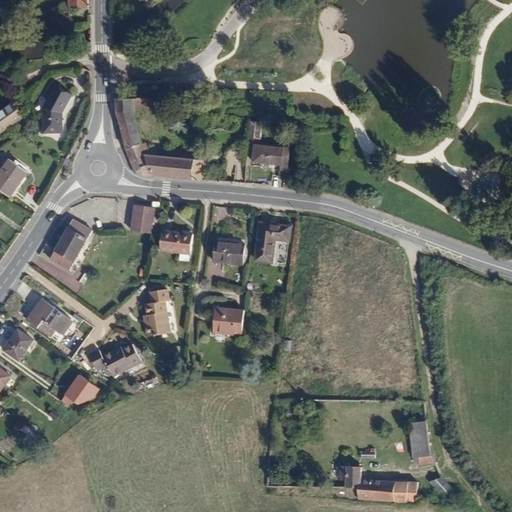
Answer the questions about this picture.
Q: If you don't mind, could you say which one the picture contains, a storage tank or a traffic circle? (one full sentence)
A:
It is a traffic circle that can be seen here.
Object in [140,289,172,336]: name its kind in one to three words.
house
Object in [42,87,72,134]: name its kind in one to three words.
house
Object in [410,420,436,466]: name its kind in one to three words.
barn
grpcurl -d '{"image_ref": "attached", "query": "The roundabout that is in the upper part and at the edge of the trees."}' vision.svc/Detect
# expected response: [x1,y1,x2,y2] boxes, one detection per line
[59,104,151,200]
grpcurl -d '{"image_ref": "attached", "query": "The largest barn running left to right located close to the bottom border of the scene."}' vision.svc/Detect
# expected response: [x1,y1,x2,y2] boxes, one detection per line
[356,478,420,504]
